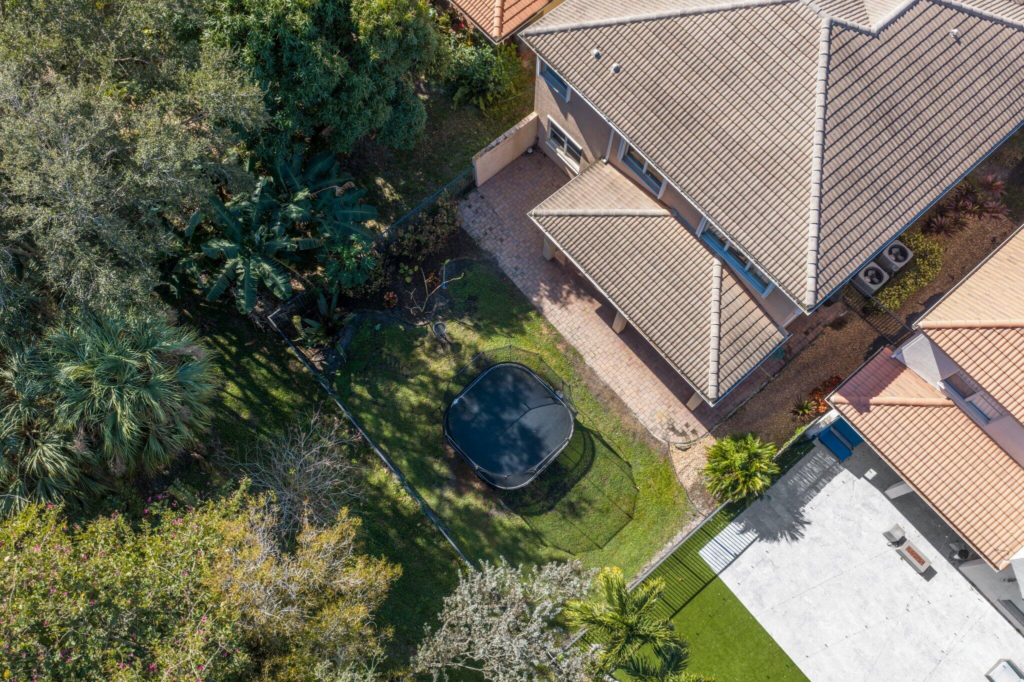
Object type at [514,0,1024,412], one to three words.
house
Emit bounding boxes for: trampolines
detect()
[437,346,582,494]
